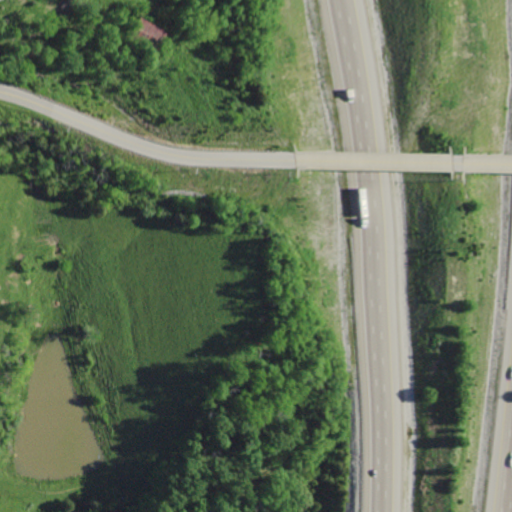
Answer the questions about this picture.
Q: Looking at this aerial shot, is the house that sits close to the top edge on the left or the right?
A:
left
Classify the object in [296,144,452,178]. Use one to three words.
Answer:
overpass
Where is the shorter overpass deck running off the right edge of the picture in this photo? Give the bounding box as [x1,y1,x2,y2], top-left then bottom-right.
[463,146,512,182]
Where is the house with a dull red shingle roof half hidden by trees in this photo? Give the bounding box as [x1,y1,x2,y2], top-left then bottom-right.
[135,16,168,44]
